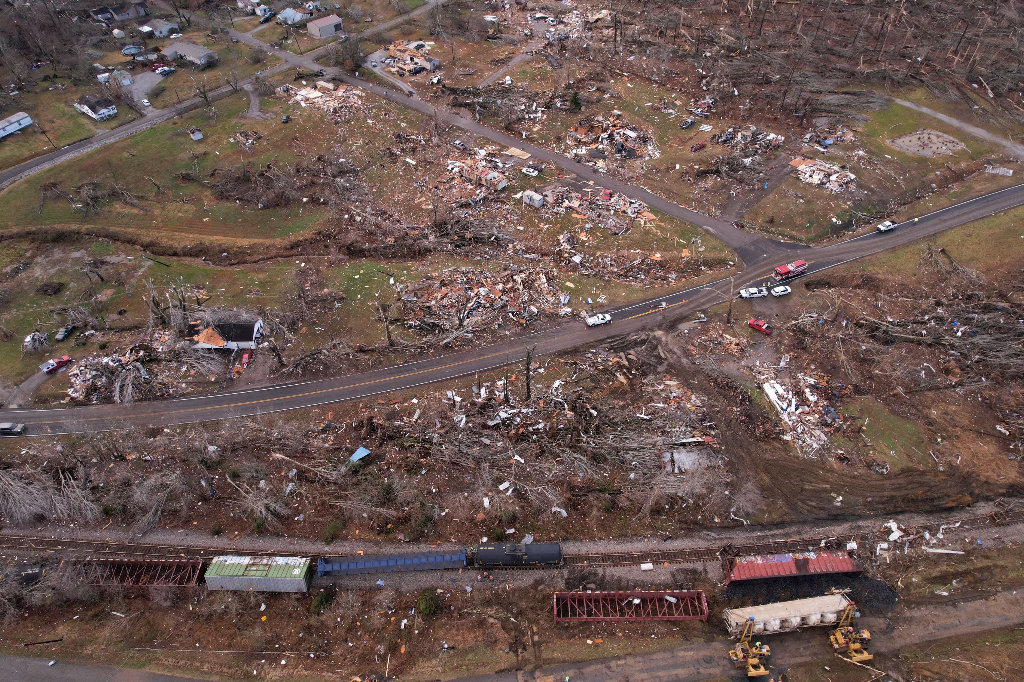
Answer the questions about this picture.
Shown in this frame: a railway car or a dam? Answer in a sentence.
Of the two, only a railway car appears.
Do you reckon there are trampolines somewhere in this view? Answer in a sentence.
No, there's no trampoline here.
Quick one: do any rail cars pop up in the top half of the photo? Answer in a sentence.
No, looking in the top half of the photo, there is no rail car.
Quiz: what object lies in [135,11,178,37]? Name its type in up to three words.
house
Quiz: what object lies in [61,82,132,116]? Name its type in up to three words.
house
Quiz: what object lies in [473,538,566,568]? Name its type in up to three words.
rail car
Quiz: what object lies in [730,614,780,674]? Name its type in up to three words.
work vehicle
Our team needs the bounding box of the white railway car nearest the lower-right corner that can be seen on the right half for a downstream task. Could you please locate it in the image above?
[727,583,871,634]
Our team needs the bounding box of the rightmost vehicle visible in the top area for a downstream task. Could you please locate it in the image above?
[875,218,899,230]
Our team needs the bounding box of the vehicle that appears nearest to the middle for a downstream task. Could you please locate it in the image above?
[584,309,612,324]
